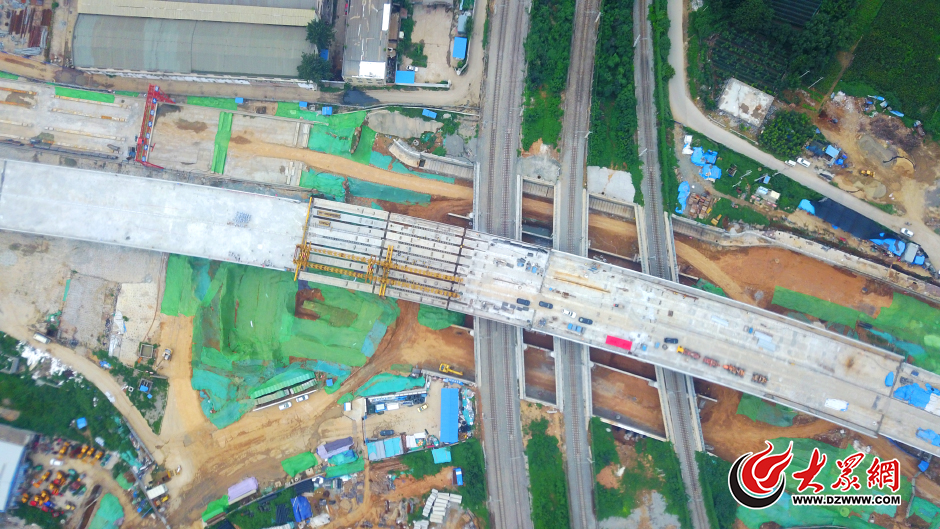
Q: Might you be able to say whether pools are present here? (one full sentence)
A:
No, there's no pool here.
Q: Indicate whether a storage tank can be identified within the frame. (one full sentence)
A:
No, the picture doesn't show any storage tank.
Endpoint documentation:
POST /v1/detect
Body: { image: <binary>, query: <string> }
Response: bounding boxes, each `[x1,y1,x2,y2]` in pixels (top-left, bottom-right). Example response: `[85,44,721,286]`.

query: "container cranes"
[132,83,177,174]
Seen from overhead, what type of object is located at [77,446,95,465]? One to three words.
work vehicle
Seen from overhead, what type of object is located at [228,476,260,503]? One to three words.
shed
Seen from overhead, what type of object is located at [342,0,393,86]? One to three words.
building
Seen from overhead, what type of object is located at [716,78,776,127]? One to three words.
house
